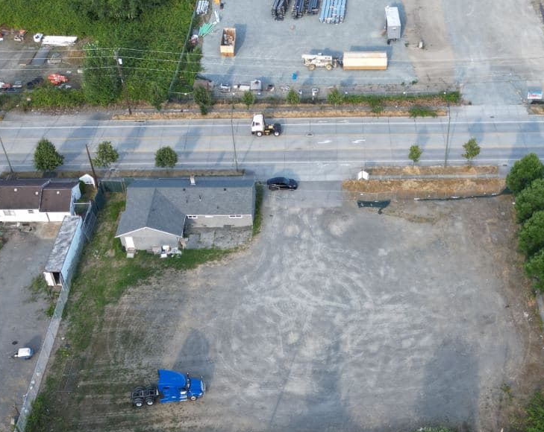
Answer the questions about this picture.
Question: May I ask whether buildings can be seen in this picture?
Yes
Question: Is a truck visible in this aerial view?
Yes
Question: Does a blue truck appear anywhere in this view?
Yes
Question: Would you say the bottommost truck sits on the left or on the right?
left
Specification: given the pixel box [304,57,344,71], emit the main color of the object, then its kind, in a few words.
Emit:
white vehicle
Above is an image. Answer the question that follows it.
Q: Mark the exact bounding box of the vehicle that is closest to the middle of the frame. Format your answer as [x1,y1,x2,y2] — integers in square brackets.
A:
[266,176,298,190]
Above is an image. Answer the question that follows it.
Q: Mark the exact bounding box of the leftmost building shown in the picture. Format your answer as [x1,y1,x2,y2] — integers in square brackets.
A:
[0,178,82,224]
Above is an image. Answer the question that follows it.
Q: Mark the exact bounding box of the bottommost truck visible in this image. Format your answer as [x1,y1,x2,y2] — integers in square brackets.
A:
[133,373,206,409]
